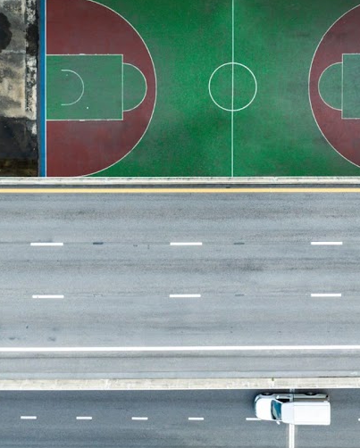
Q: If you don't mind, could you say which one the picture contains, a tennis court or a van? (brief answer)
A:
van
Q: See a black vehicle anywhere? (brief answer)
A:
No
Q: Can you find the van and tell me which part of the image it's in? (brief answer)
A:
bottom right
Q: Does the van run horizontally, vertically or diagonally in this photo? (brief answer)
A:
horizontally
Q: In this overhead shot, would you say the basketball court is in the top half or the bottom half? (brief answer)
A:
top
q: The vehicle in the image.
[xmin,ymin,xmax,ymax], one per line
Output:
[256,392,330,428]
